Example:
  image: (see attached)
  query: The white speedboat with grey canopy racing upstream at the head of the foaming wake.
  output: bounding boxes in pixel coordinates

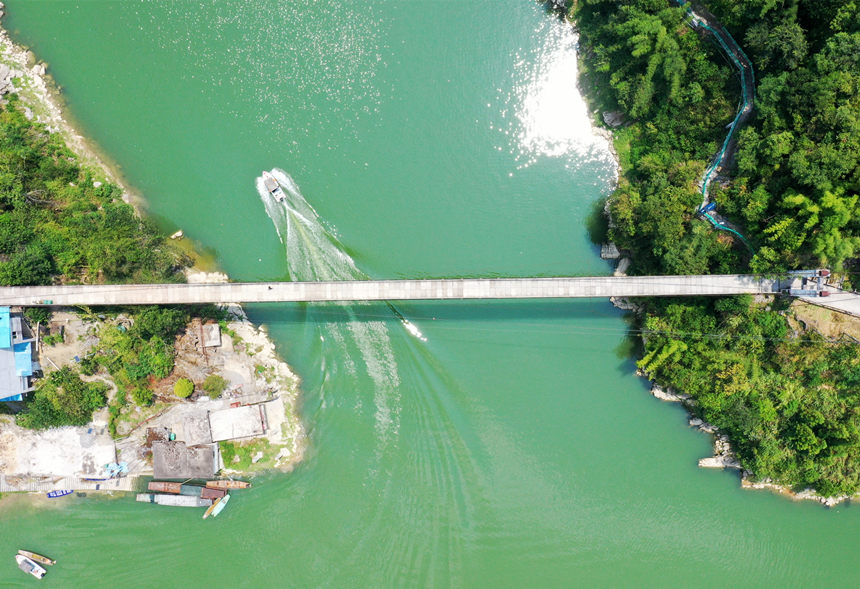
[263,171,285,203]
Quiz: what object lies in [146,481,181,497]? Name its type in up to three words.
ship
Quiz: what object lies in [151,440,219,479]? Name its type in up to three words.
building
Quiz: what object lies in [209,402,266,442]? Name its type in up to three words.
house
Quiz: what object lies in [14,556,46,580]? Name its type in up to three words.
boat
